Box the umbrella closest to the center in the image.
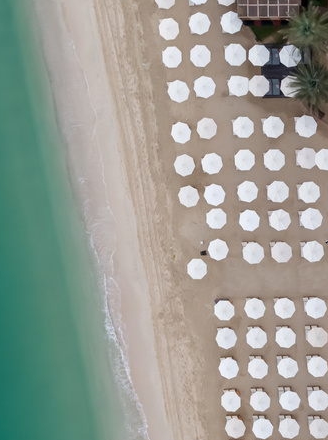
[178,186,199,206]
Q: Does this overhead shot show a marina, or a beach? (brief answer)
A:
beach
